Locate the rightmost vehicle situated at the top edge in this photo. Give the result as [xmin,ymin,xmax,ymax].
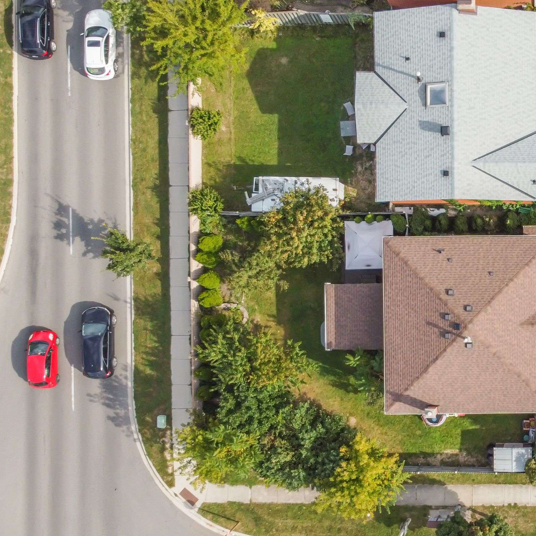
[82,13,118,81]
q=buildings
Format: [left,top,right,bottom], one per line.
[493,445,531,473]
[324,225,536,415]
[354,0,536,205]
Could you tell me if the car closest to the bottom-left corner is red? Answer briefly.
Yes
